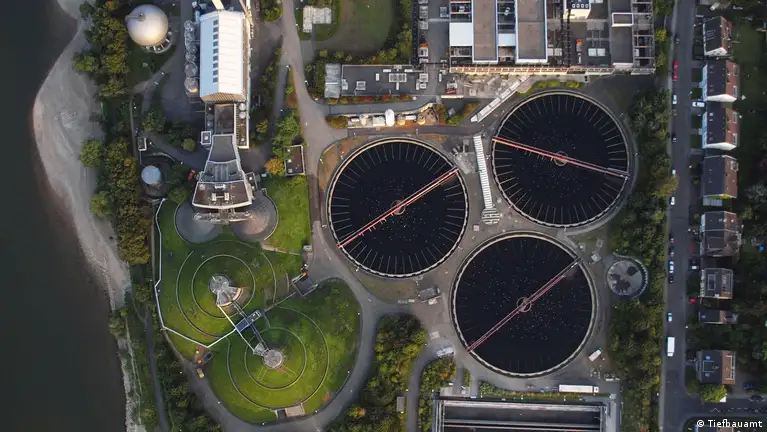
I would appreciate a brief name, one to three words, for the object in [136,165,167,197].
storage tank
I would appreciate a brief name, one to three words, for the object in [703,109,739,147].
house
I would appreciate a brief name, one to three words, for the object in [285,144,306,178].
building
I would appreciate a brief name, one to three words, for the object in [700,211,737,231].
house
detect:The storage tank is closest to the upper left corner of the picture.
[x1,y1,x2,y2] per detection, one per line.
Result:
[125,4,170,51]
